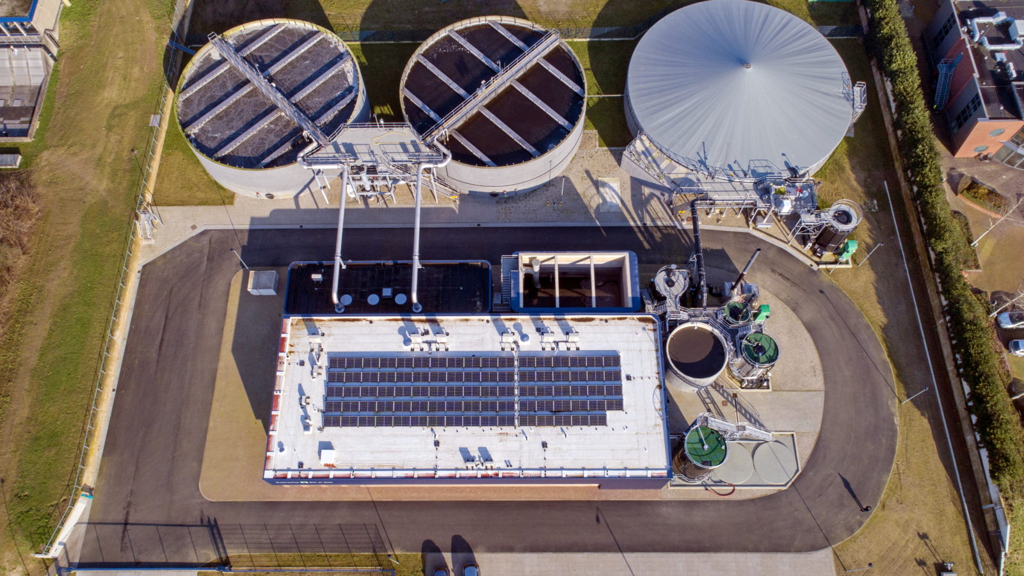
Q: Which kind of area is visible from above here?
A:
industrial area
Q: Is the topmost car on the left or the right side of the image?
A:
right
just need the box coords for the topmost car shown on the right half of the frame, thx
[997,310,1024,330]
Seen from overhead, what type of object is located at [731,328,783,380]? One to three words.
storage tank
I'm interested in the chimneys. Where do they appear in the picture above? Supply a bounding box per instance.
[730,245,770,310]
